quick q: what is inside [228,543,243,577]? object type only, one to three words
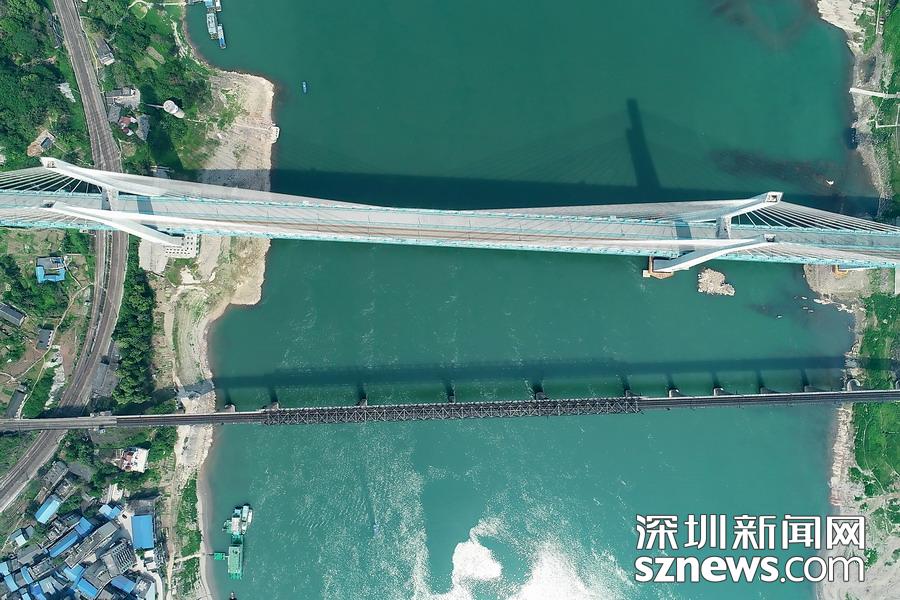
ship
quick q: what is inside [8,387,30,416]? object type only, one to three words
house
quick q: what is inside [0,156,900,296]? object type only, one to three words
bridge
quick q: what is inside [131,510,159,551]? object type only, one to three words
building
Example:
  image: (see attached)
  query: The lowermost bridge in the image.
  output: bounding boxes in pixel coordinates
[0,368,900,432]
